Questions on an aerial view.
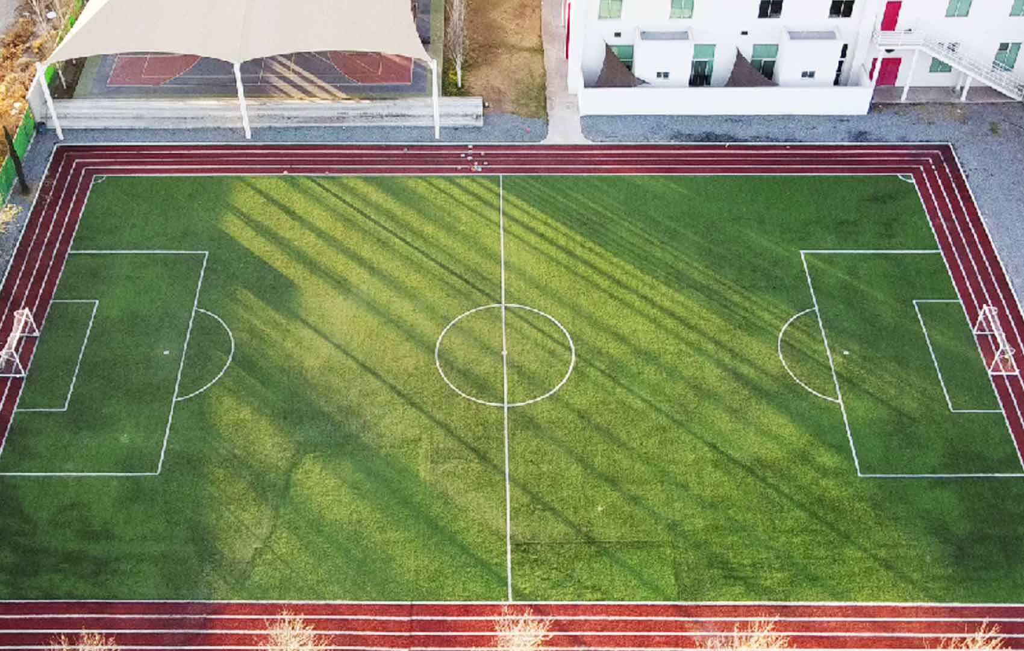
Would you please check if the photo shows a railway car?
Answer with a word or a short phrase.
No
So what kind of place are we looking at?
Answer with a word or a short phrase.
sports ground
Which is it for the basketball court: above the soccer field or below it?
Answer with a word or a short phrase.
above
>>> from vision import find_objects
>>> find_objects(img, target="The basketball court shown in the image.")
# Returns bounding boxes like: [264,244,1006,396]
[71,0,447,99]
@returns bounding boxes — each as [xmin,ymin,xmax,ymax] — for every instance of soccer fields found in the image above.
[0,174,1024,604]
